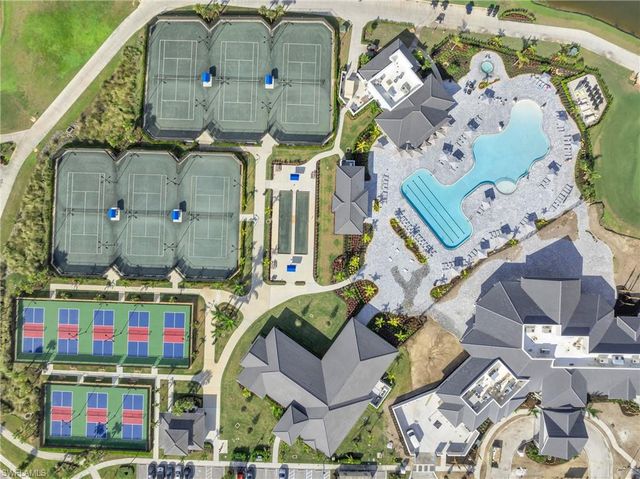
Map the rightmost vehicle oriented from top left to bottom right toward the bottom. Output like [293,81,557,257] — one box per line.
[406,431,422,452]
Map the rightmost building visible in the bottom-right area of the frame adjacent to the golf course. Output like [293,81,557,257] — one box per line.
[437,278,640,430]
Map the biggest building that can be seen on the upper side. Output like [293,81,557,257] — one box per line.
[359,39,456,149]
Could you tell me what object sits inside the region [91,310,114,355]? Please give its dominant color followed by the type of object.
blue sports court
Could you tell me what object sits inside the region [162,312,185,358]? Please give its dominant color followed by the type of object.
blue sports court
